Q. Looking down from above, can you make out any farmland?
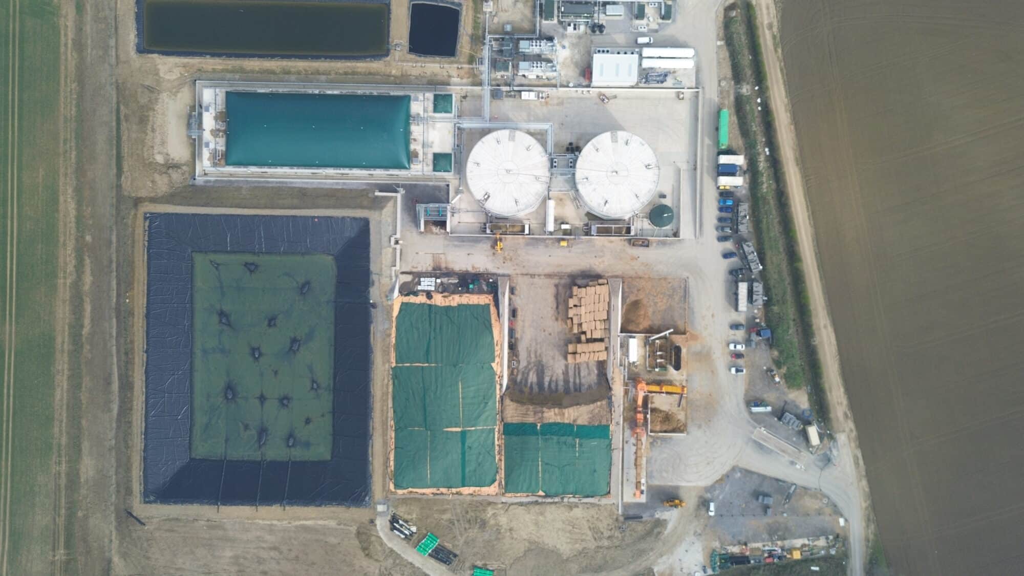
Yes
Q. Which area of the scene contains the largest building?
top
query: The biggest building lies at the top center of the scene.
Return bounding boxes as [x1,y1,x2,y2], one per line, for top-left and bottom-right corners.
[591,54,639,87]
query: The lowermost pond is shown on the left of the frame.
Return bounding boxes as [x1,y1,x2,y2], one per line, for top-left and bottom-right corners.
[144,213,372,512]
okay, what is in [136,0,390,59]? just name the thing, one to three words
pond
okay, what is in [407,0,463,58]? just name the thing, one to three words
pond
